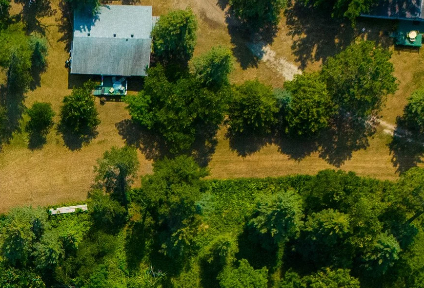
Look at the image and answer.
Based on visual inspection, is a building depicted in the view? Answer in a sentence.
Yes, there's a building here.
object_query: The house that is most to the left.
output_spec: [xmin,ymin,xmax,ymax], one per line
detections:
[69,5,161,95]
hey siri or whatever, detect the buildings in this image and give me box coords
[351,0,424,48]
[69,5,161,95]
